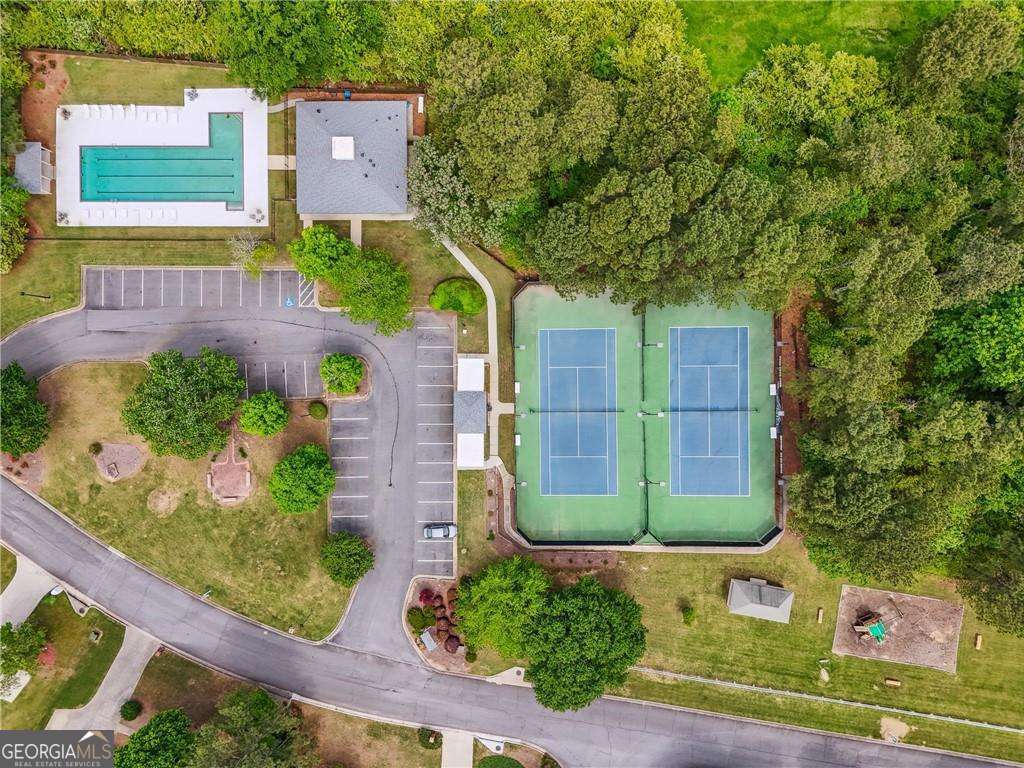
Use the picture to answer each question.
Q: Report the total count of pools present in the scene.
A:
1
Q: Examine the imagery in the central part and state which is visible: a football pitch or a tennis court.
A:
tennis court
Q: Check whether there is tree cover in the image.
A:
Yes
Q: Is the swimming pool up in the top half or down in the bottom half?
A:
top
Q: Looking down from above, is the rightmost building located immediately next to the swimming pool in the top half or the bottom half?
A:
top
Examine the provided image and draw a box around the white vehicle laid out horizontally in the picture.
[424,524,457,540]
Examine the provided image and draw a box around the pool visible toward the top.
[56,89,268,226]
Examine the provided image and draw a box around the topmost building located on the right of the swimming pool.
[295,99,408,215]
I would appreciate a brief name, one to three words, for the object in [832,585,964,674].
playground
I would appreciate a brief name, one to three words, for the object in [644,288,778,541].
tennis court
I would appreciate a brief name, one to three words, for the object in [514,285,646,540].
tennis court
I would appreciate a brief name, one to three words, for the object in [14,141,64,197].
shed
